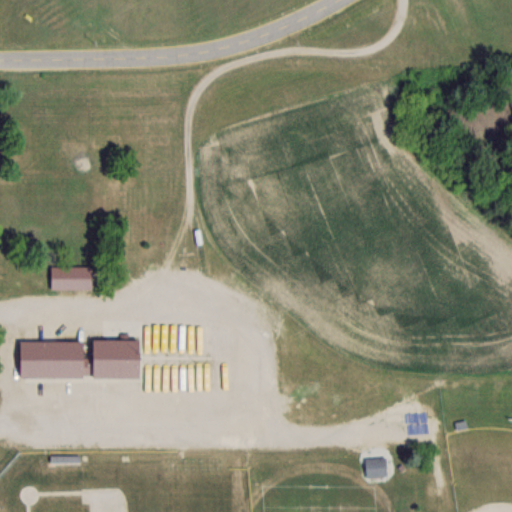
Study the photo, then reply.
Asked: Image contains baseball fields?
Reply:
Yes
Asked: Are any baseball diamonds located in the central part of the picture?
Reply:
No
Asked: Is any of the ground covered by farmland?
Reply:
Yes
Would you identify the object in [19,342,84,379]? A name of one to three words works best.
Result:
building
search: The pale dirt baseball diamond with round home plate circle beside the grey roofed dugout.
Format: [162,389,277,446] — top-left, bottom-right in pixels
[20,483,130,512]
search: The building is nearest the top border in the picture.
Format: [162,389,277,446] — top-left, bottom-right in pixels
[51,267,92,292]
